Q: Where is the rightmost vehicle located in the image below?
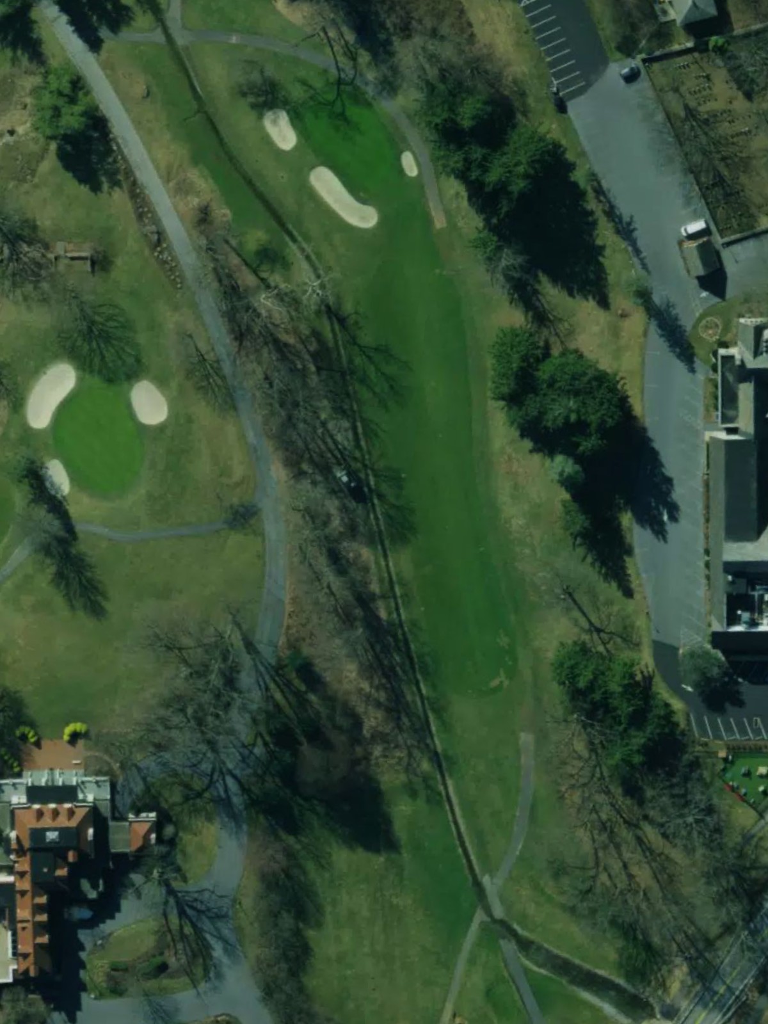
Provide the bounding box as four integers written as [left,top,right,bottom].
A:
[680,220,707,236]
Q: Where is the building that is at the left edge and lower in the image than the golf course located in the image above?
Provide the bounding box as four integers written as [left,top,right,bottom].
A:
[0,766,158,983]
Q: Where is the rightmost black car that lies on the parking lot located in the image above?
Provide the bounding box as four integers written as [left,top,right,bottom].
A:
[620,66,641,78]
